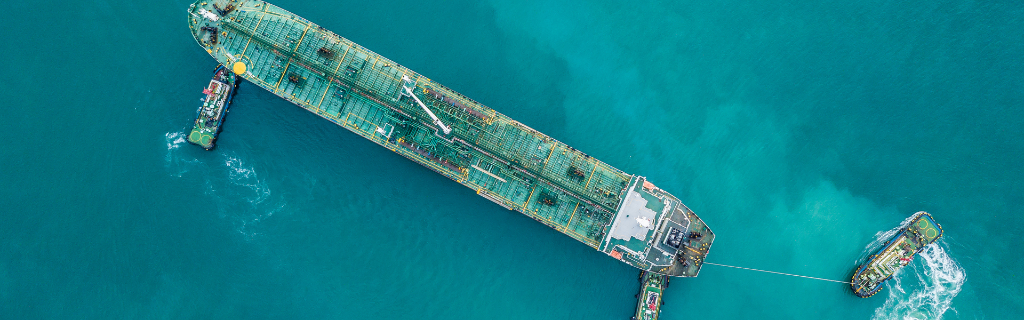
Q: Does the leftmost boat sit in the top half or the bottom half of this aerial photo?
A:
top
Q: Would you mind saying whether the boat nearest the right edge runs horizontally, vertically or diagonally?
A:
diagonally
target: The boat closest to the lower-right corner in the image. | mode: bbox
[852,216,944,301]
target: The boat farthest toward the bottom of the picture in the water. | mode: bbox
[632,270,669,320]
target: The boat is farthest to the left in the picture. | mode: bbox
[186,63,240,150]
